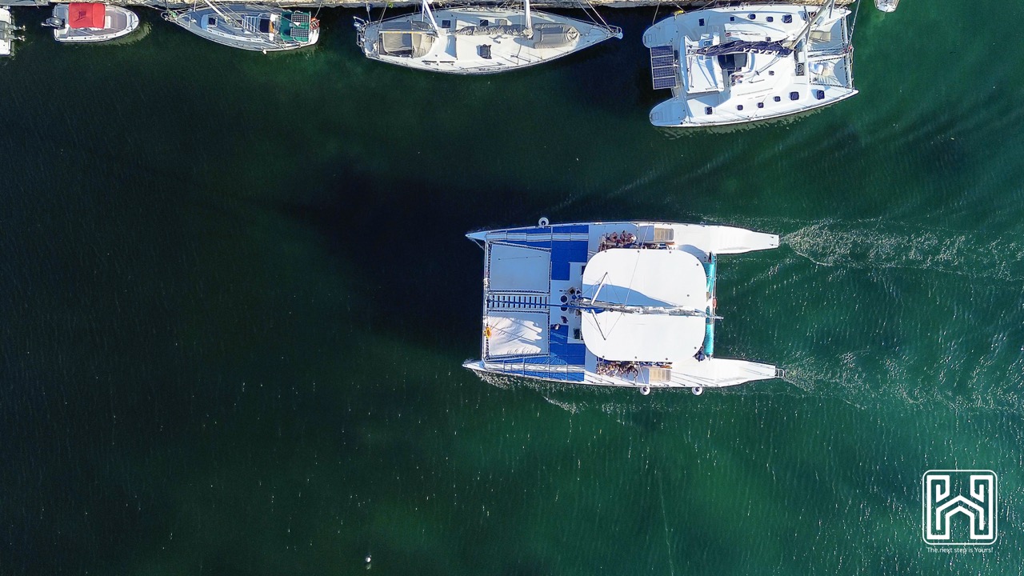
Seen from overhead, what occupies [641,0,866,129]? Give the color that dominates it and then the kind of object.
white boat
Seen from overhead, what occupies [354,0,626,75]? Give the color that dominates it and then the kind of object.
white boat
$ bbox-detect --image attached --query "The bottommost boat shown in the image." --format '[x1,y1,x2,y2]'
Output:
[464,222,785,389]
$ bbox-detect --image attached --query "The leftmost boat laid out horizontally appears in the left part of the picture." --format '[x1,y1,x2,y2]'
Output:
[40,3,143,43]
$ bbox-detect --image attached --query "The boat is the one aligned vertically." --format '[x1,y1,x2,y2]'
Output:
[0,6,26,60]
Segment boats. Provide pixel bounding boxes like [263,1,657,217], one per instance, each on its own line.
[162,0,321,52]
[354,0,626,75]
[40,3,143,43]
[464,222,785,389]
[869,0,898,12]
[0,6,26,60]
[641,0,866,129]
